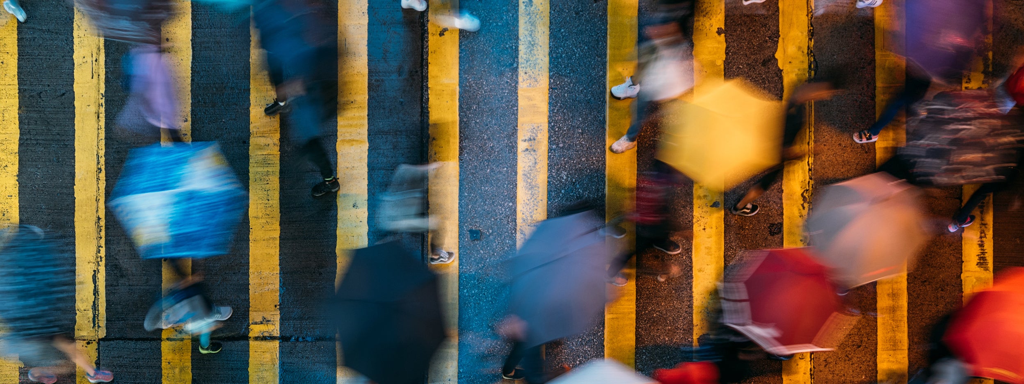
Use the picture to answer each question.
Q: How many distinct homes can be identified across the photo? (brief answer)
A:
0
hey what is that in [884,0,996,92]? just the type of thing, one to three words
umbrella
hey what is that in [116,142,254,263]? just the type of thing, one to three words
umbrella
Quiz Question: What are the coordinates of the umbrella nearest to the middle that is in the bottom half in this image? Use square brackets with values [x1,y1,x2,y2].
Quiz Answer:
[490,205,610,350]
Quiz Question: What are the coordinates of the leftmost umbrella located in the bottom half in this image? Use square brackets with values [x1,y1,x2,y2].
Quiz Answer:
[0,210,88,354]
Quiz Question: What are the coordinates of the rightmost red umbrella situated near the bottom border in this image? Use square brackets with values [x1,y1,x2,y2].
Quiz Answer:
[936,263,1024,384]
